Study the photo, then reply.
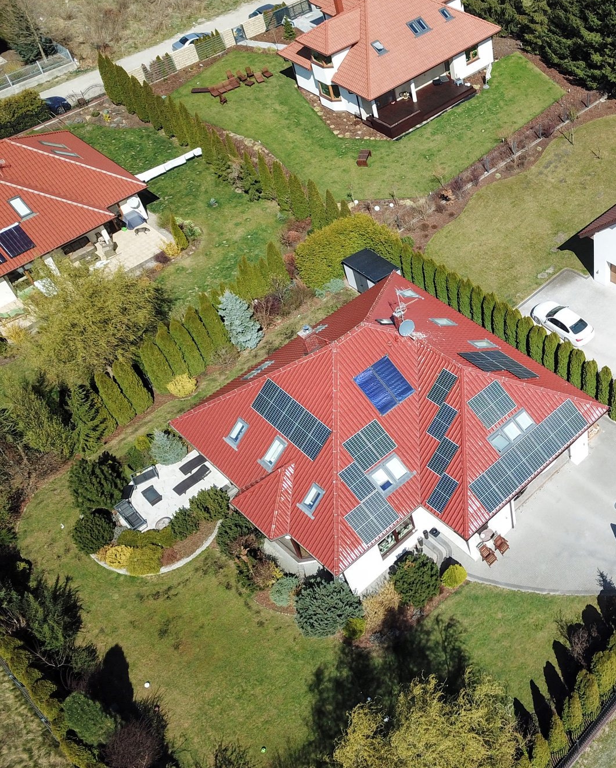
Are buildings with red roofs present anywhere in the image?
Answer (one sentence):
Yes, I can see a building with a red roof in this picture.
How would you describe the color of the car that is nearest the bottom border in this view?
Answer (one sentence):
From above, the car that is nearest the bottom border appears white.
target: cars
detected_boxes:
[17,94,75,126]
[523,295,593,344]
[169,27,214,51]
[247,0,293,23]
